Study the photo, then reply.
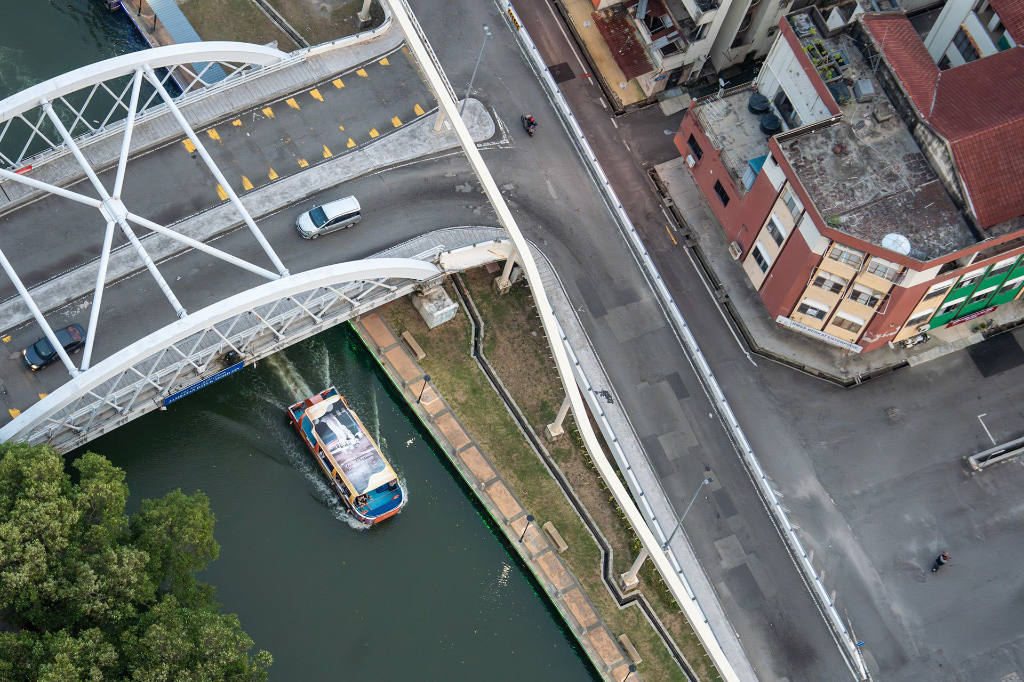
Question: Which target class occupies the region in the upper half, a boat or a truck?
boat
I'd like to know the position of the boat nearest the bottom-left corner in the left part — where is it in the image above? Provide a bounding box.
[288,386,398,530]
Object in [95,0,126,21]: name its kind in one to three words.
boat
